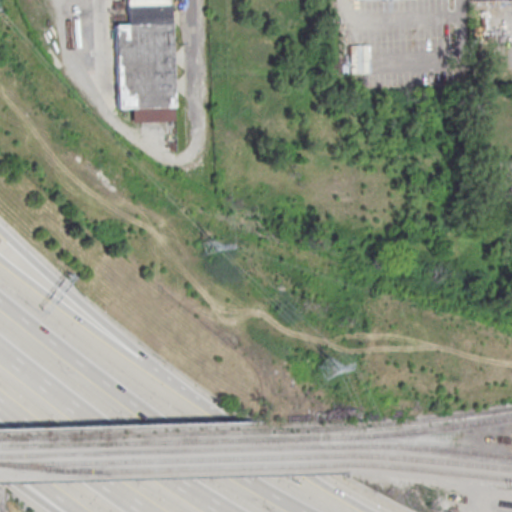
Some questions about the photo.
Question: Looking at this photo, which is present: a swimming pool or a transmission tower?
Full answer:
It is a transmission tower that can be seen here.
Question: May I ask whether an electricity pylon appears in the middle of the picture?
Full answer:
Yes, an electricity pylon can be seen in the middle of the picture.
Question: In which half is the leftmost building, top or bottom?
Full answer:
It is in the top half that the leftmost building appears.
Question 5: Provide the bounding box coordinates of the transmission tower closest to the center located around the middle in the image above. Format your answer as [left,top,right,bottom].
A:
[202,237,238,258]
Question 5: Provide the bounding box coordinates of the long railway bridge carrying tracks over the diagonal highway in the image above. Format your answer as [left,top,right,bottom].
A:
[0,410,356,485]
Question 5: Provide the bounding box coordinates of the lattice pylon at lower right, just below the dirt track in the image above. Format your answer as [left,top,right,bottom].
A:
[322,358,362,380]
